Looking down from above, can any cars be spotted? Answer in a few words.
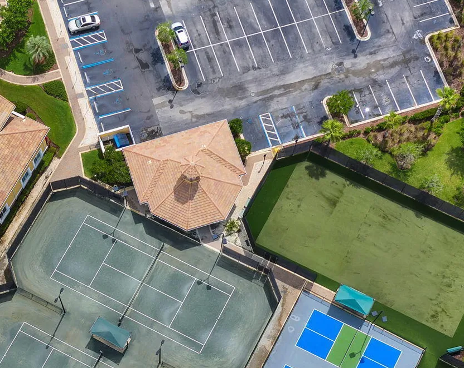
Yes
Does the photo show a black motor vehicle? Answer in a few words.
No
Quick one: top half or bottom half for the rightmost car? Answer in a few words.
top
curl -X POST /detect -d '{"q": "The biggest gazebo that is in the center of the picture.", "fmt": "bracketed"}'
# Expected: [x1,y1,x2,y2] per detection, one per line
[123,119,246,236]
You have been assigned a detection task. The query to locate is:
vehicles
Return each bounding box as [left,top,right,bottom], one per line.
[69,15,101,33]
[171,22,192,48]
